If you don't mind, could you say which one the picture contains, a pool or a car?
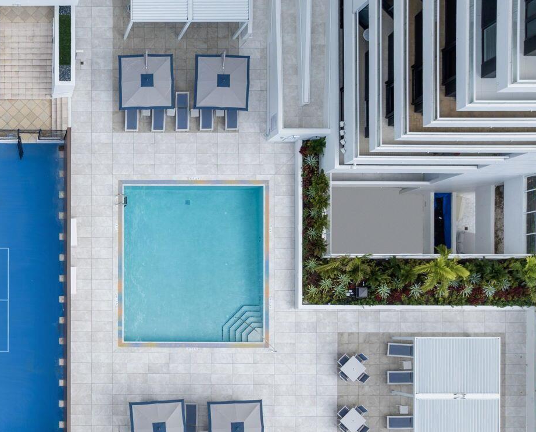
pool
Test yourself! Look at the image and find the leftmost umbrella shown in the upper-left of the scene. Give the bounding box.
[119,47,174,111]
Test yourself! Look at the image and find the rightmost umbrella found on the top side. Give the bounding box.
[193,48,250,112]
